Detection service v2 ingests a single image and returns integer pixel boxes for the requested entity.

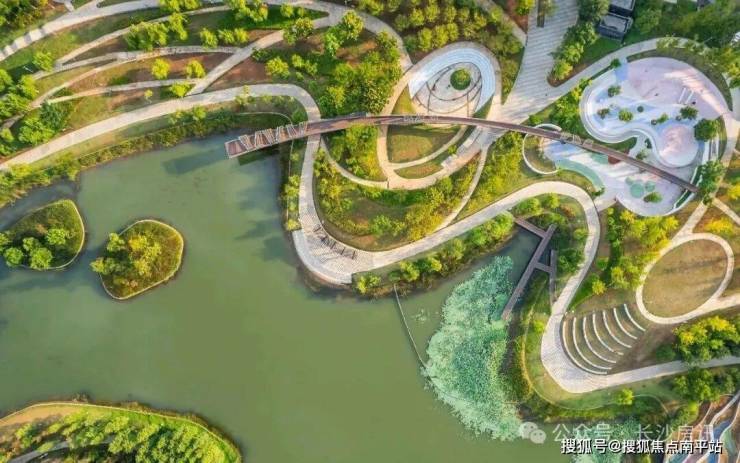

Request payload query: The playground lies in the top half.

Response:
[546,56,726,218]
